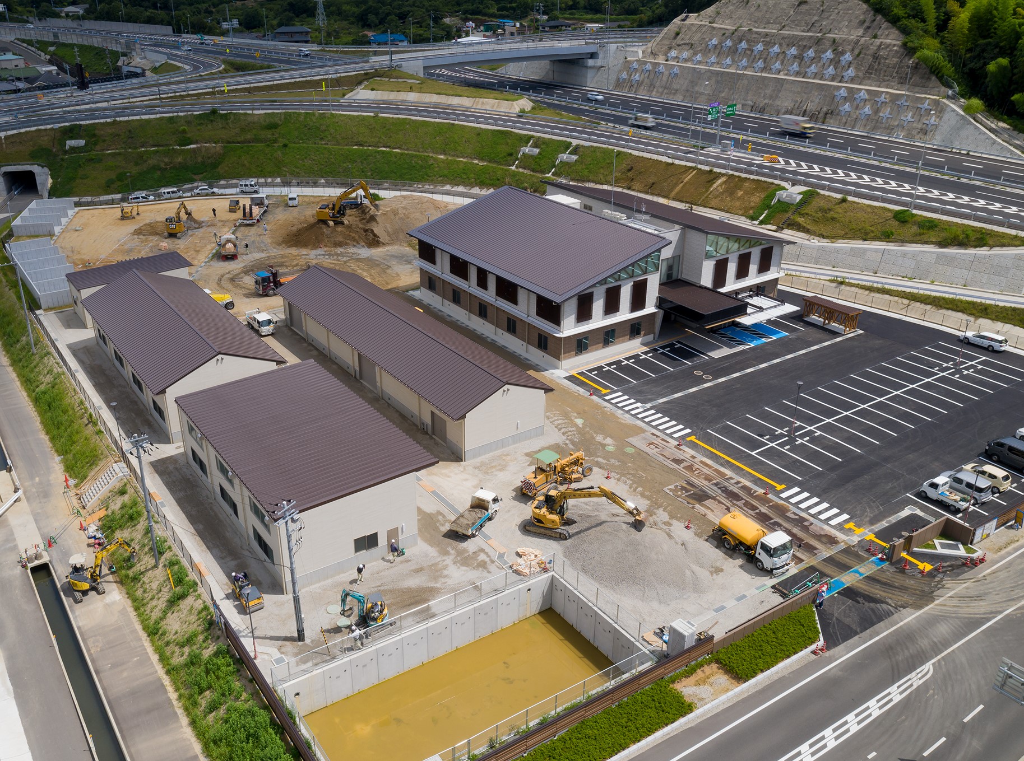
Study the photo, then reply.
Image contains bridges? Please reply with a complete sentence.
Yes, a bridge is visible in the scene.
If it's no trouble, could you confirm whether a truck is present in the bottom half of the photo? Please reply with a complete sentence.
Yes, in the bottom half of the photo there is a truck.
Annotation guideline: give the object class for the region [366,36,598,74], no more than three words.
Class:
bridge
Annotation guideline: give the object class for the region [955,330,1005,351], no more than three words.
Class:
car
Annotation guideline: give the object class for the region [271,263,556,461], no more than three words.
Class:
shed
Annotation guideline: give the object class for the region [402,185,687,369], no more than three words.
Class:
building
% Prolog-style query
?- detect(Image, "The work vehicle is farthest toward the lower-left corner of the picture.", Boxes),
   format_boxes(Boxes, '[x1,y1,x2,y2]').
[58,537,141,602]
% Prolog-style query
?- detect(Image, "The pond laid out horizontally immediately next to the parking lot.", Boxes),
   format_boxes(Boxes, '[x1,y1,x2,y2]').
[277,565,669,761]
